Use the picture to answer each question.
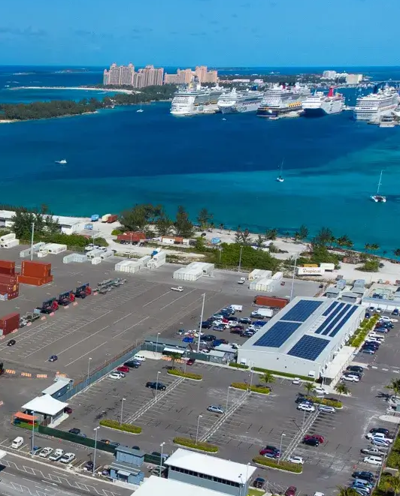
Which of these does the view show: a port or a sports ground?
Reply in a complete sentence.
It's a port.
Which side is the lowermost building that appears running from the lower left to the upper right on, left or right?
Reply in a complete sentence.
The lowermost building that appears running from the lower left to the upper right appears in the left half of the scene.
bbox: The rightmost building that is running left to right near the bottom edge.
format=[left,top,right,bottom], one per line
[161,448,264,496]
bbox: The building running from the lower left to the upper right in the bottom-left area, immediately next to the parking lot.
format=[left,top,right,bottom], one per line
[39,371,72,396]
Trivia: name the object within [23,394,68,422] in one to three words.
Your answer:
building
